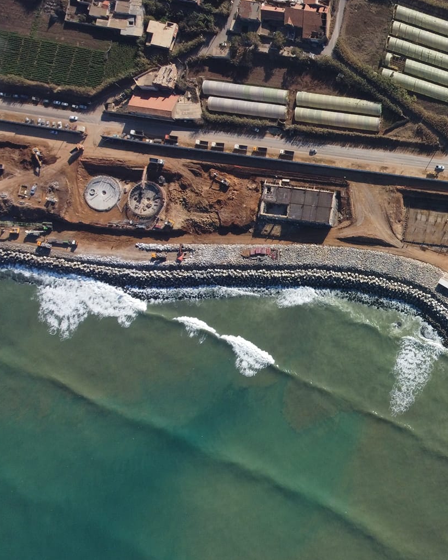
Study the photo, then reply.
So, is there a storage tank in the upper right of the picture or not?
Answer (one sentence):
No, in the upper right of the picture there is no storage tank.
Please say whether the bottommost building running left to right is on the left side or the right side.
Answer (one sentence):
The bottommost building running left to right sits on the right side.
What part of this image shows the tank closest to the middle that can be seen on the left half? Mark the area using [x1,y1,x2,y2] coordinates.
[128,172,171,222]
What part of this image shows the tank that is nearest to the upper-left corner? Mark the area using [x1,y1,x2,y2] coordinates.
[84,175,127,213]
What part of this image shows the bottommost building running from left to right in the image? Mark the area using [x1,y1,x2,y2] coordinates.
[260,183,340,225]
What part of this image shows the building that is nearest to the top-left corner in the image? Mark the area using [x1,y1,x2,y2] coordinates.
[78,0,113,18]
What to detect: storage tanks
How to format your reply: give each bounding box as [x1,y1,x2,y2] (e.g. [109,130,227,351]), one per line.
[84,175,127,213]
[128,172,171,222]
